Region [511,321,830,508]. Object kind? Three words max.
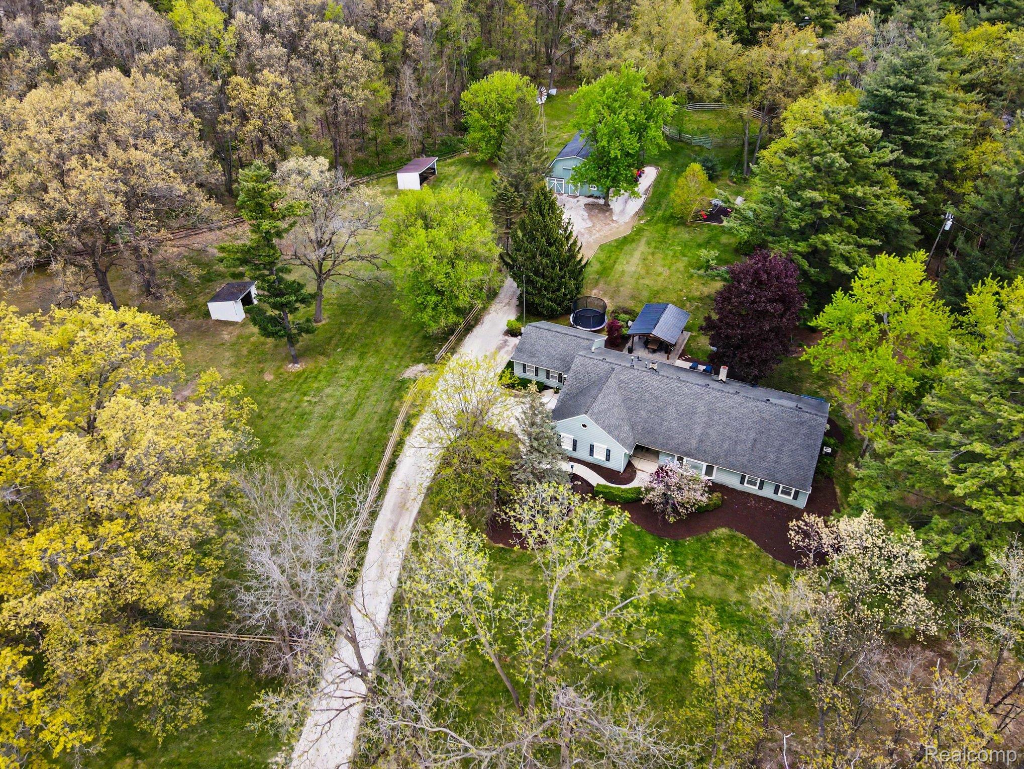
house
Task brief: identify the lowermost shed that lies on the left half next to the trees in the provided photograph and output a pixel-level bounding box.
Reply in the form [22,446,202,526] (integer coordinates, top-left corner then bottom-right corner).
[203,280,258,321]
